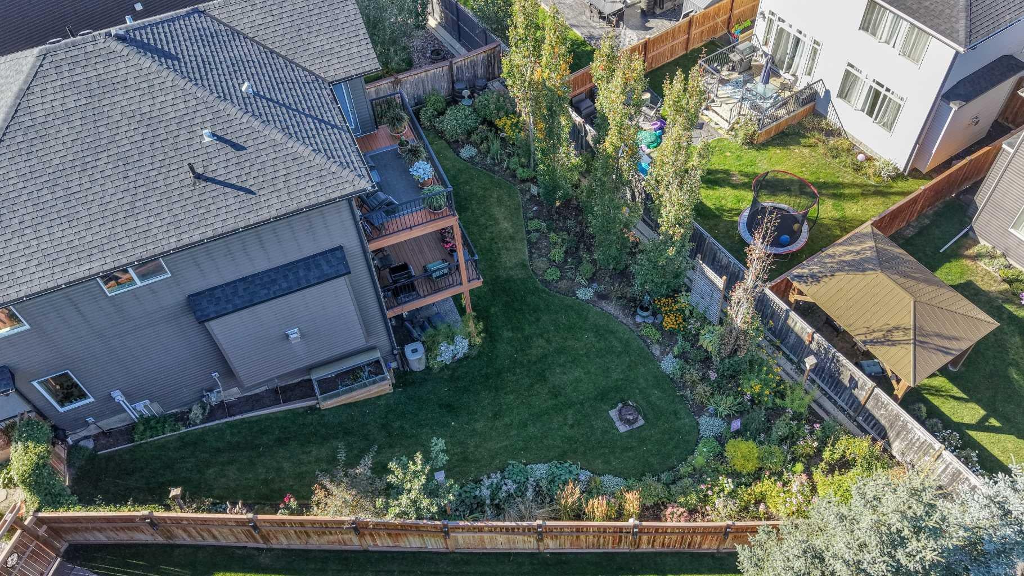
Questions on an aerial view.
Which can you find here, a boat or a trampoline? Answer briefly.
trampoline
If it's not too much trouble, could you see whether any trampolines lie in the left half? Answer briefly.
No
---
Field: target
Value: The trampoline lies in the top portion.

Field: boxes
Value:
[737,167,820,264]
